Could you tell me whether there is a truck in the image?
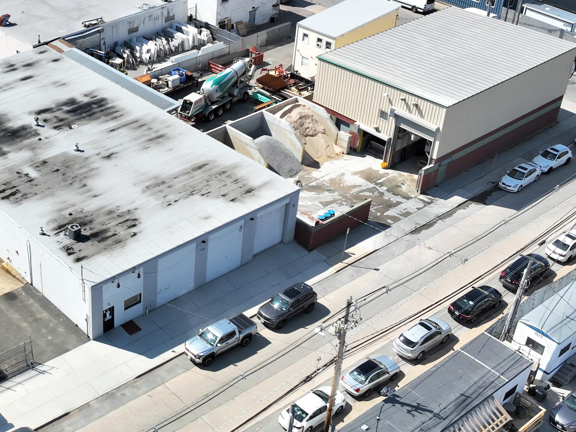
Yes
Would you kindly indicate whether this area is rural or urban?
urban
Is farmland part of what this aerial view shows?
No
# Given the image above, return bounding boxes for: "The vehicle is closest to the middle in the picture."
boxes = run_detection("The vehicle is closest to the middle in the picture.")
[259,284,320,330]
